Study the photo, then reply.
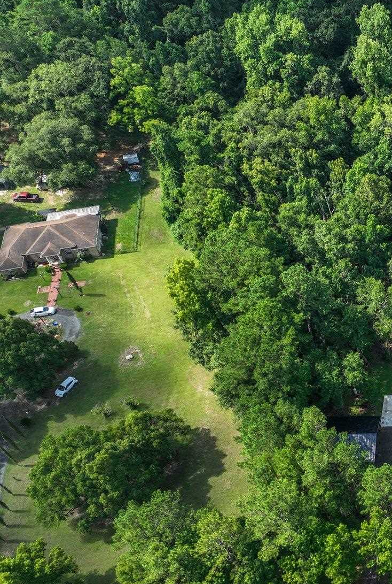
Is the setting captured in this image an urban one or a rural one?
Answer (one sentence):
It looks rural.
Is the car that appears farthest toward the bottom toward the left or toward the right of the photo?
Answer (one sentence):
The car that appears farthest toward the bottom sits on the left side.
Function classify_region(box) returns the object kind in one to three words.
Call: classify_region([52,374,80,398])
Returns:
car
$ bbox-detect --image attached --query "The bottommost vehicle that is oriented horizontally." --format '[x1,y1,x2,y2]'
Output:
[29,306,57,319]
